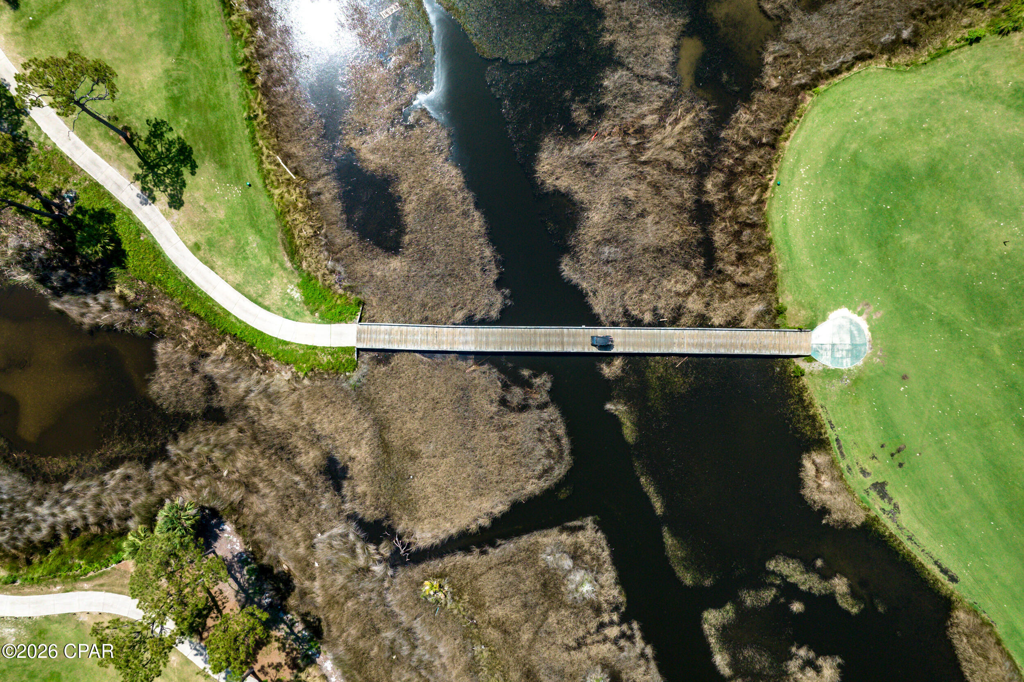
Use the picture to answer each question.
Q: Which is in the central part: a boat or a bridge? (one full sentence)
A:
What appears in the central part is a bridge.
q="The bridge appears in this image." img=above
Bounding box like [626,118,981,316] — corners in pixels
[355,304,813,362]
